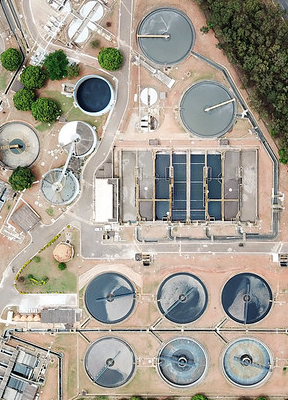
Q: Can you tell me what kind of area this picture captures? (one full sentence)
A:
The picture captures an industrial area.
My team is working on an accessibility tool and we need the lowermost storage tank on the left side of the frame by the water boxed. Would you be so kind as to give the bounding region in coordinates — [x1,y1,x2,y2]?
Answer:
[84,335,137,389]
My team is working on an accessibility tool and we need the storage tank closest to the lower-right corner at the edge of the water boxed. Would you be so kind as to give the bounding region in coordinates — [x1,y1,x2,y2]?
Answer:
[220,334,273,388]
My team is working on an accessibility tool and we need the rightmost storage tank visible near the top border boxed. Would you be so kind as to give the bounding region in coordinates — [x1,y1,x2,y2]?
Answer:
[135,6,196,66]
